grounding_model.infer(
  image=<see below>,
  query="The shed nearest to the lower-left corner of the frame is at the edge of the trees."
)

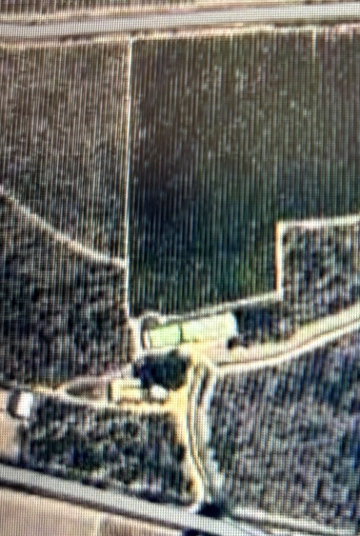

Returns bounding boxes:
[11,391,31,418]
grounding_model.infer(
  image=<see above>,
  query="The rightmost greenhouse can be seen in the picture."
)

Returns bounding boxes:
[178,315,234,342]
